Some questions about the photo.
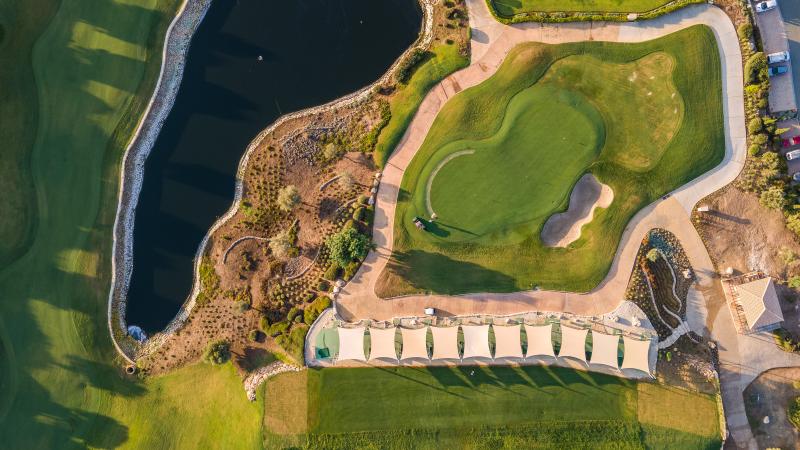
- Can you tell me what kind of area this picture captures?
golf course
